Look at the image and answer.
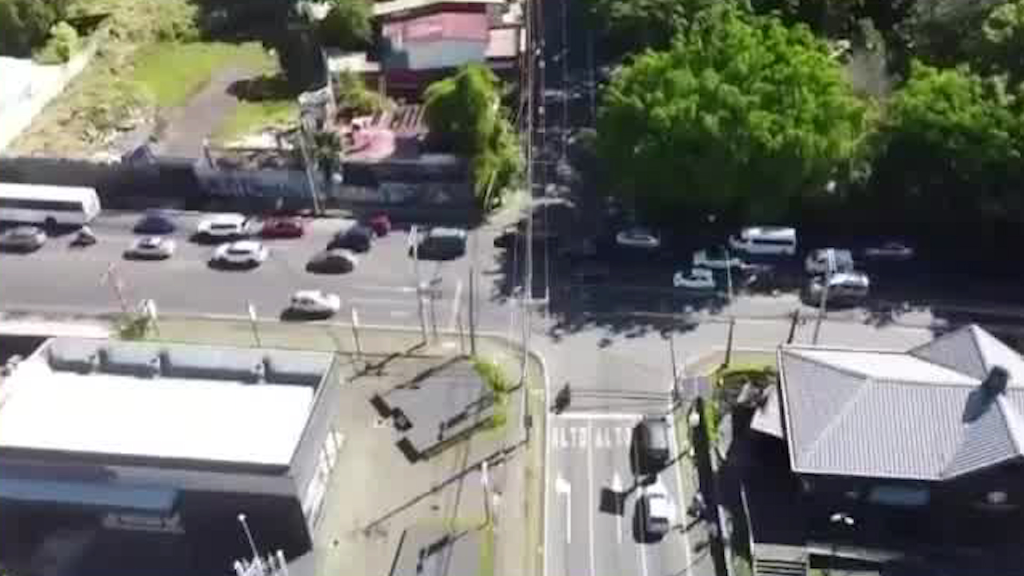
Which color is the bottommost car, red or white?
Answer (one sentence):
The bottommost car is white.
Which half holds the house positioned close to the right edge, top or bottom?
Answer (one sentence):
The house positioned close to the right edge sits in the bottom half of the picture.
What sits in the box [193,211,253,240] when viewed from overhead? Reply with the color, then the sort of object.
white car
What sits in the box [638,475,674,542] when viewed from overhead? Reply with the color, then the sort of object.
white car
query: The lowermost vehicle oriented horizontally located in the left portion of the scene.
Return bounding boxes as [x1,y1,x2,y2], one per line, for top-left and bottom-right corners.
[281,289,344,319]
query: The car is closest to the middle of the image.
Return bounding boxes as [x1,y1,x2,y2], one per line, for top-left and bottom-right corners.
[488,226,541,252]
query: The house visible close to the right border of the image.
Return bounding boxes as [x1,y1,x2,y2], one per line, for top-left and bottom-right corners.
[774,325,1024,530]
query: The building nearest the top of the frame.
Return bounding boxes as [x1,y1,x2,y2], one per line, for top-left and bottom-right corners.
[327,0,528,101]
